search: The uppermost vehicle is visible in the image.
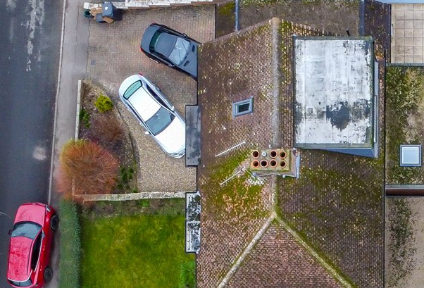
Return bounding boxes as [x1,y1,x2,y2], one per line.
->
[133,16,203,76]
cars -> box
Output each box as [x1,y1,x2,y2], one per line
[109,66,185,154]
[133,16,203,76]
[4,202,58,288]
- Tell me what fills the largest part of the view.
buildings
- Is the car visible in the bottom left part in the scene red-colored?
Yes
